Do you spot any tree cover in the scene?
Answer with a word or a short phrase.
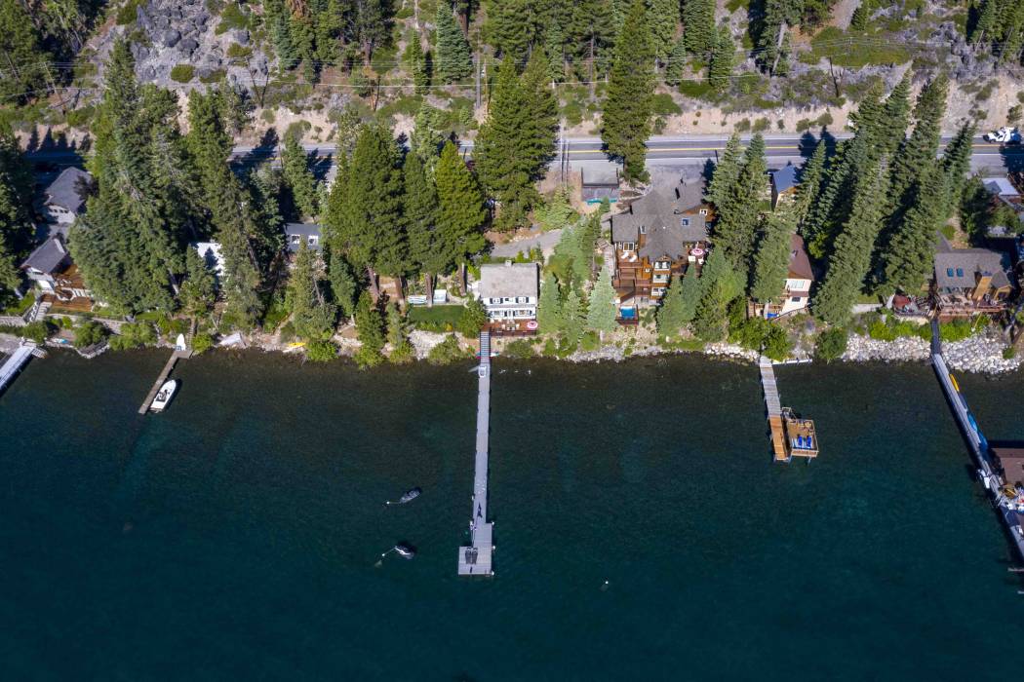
Yes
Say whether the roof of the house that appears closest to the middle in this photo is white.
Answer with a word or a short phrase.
Yes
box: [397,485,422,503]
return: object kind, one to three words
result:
boat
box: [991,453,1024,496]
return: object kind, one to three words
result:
building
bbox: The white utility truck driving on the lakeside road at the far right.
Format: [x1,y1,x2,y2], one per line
[983,127,1023,143]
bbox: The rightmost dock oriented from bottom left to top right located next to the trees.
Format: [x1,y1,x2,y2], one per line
[138,327,202,417]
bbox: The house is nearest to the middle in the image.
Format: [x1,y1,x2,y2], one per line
[470,259,539,360]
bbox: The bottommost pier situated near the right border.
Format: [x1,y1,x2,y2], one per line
[926,361,1024,584]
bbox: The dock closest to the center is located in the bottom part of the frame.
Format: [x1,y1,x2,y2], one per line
[457,358,495,579]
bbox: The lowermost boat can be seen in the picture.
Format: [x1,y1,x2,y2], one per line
[385,545,416,562]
